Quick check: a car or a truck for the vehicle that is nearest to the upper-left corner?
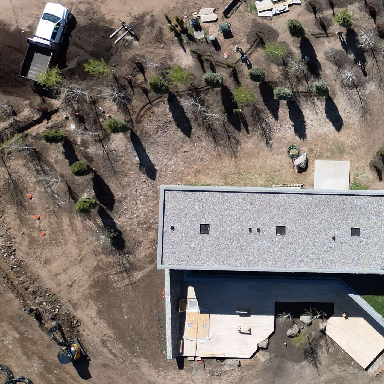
truck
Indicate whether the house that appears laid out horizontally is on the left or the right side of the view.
right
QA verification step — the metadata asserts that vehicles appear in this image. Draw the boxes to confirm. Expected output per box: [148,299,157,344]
[17,2,73,83]
[53,326,96,374]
